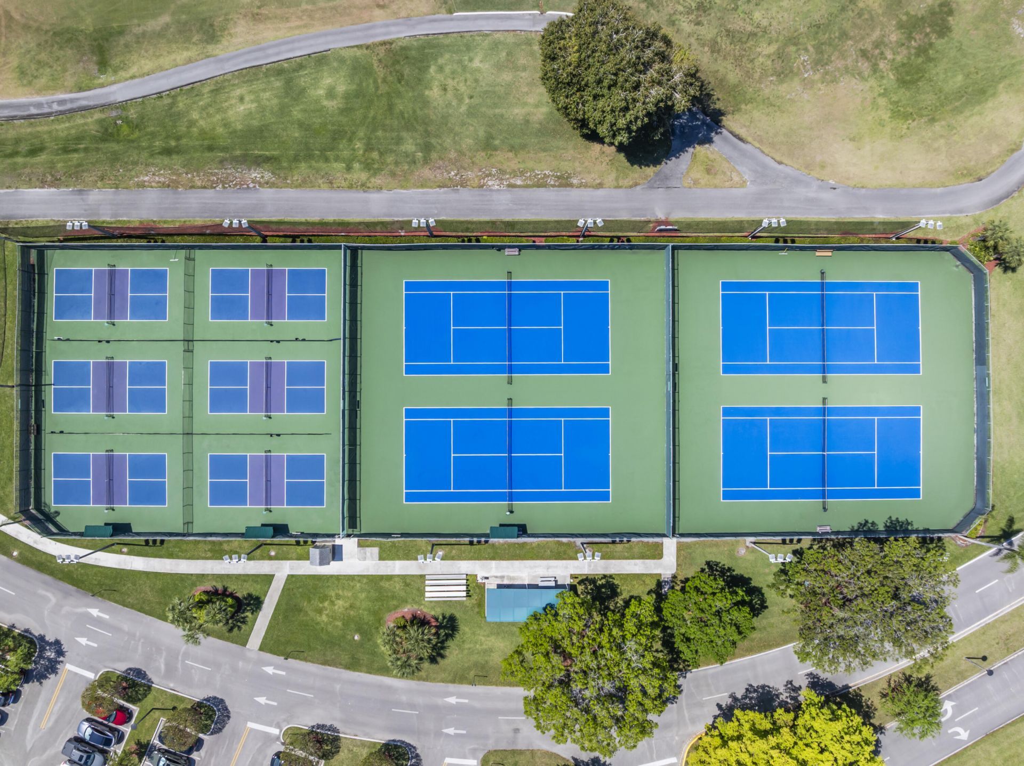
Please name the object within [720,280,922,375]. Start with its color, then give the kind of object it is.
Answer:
blue tennis court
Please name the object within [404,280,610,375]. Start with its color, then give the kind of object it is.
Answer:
blue tennis court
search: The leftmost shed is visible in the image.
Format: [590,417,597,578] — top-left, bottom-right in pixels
[309,544,332,569]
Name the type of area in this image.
sports ground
